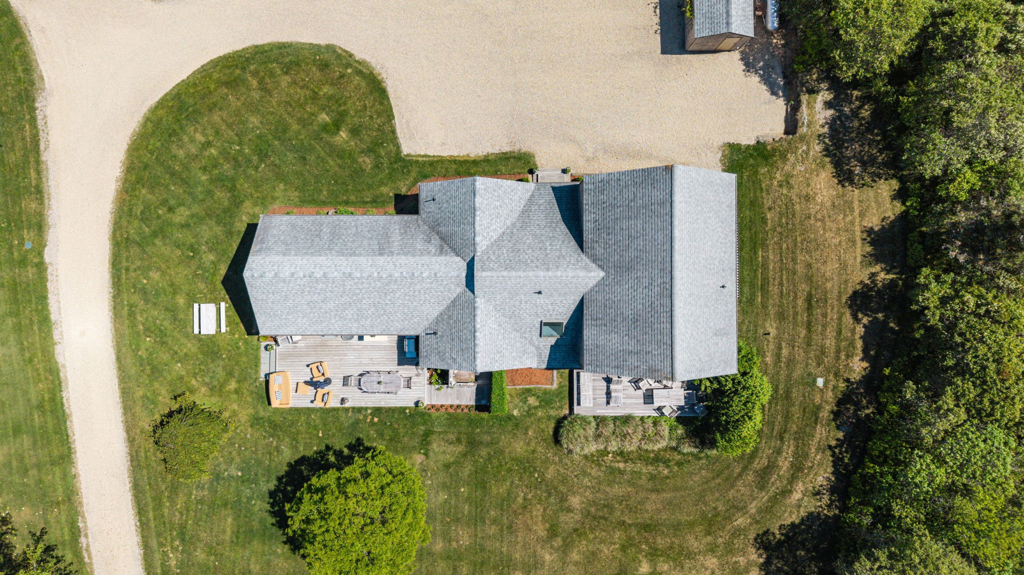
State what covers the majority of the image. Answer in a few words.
grass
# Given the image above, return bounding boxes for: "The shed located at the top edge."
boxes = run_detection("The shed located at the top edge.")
[686,0,755,51]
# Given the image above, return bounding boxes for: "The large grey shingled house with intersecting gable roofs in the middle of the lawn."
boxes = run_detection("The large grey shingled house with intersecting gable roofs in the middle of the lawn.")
[242,164,740,381]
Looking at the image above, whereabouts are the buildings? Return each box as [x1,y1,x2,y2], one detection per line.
[242,164,740,381]
[686,0,755,51]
